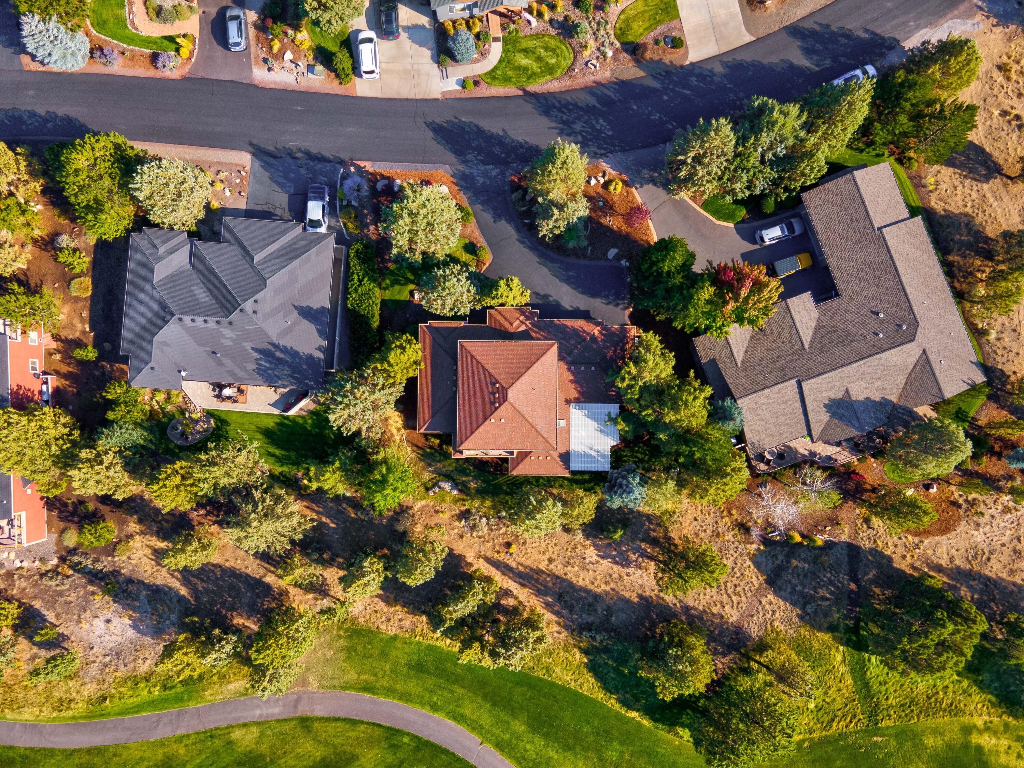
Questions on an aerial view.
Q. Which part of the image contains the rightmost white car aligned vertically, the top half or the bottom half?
top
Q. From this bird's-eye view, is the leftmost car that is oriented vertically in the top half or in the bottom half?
top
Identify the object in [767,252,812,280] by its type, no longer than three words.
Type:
car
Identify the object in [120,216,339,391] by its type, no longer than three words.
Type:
house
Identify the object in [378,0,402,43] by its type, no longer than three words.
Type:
car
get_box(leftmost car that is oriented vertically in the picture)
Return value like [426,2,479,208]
[224,6,250,55]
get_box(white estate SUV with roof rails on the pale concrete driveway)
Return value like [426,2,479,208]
[357,31,382,83]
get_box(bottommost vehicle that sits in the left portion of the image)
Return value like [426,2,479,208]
[306,183,331,232]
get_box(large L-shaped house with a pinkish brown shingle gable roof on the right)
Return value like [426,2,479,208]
[692,160,987,457]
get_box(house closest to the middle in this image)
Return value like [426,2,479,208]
[417,306,637,476]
